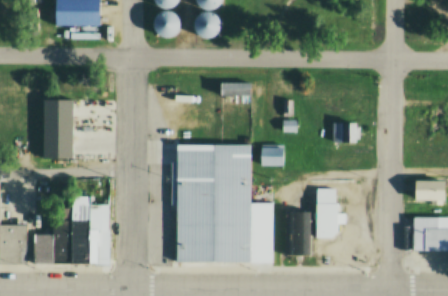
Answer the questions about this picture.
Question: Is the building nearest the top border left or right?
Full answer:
The building nearest the top border sits on the left side.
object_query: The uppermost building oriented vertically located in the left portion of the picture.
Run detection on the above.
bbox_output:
[43,100,72,159]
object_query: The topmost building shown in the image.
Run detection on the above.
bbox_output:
[55,0,100,26]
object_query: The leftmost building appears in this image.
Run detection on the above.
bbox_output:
[0,224,26,264]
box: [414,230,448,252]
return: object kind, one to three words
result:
building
